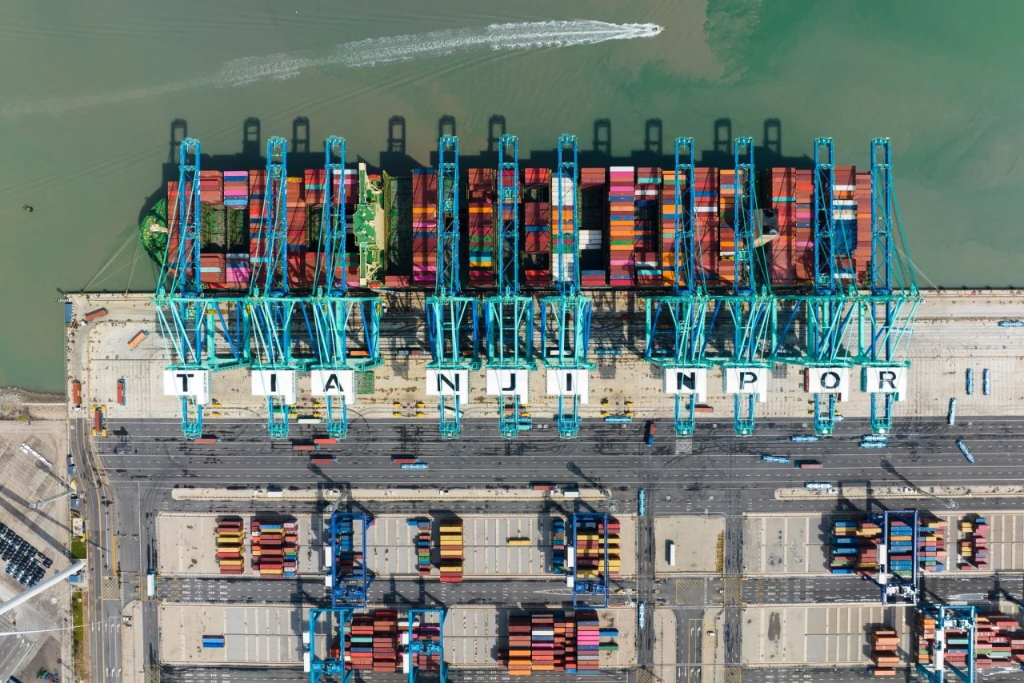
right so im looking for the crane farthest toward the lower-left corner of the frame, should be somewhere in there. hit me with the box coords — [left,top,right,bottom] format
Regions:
[304,607,357,683]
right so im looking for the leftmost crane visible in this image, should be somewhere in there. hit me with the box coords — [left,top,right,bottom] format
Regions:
[149,135,262,437]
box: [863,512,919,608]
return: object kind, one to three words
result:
container crane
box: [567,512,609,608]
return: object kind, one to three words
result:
container crane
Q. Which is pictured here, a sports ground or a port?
port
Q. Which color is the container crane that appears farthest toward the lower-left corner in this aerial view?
blue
